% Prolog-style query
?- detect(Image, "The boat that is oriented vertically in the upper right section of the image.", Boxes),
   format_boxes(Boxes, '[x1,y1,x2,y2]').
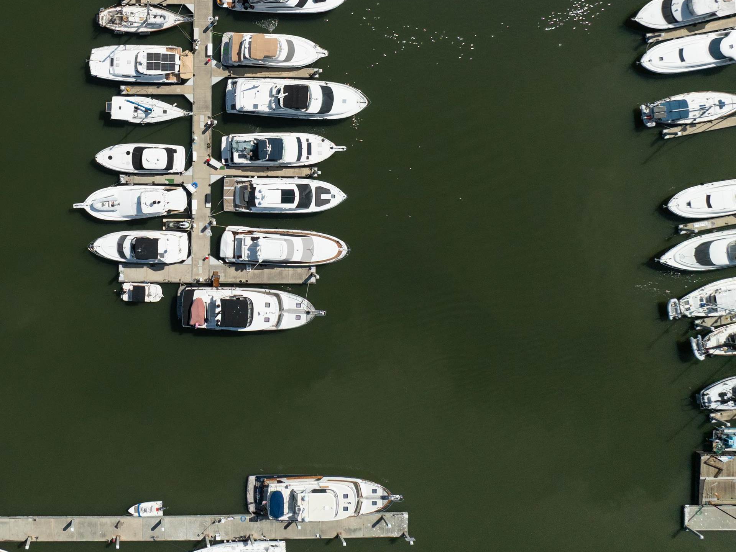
[641,102,654,126]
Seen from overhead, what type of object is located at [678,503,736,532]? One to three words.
pier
